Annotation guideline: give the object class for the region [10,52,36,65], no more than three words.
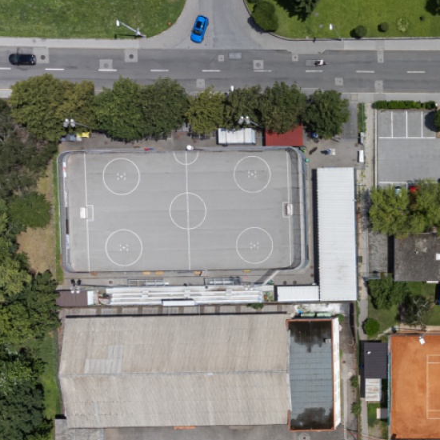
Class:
vehicle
